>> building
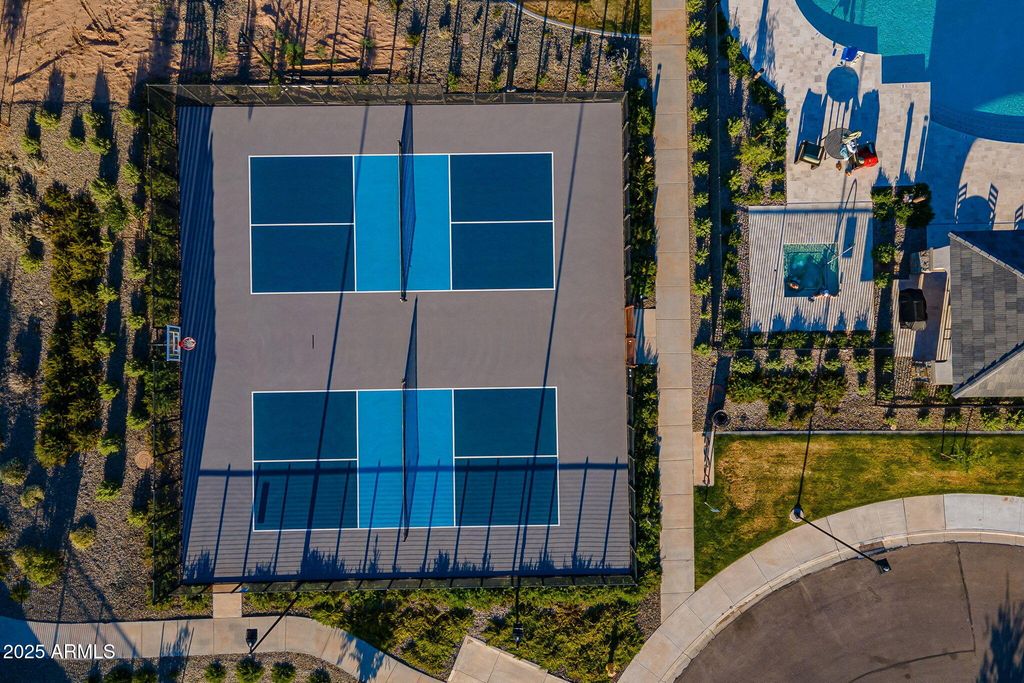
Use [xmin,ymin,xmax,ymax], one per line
[948,232,1024,399]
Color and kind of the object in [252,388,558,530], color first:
blue sports court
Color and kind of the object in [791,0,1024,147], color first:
blue swimming pool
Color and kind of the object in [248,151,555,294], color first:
blue sports court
